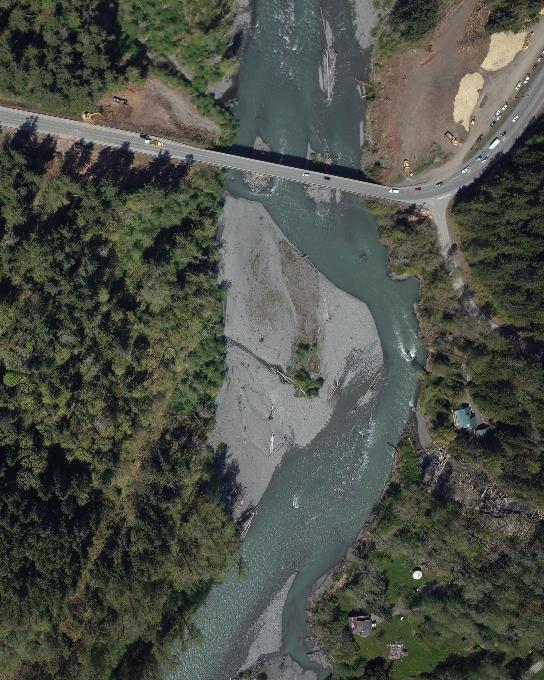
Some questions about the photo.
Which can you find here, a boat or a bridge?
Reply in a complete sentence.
There is a bridge in the scene.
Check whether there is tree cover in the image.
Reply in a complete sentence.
Yes, some tree cover is visible.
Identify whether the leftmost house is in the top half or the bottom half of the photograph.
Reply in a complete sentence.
The leftmost house sits in the bottom half of the picture.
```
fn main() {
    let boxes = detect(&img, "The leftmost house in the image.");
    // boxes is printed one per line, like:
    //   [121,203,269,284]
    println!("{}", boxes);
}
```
[349,610,374,637]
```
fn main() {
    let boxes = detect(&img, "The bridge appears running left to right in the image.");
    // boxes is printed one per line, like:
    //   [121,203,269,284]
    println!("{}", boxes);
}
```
[212,150,384,199]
